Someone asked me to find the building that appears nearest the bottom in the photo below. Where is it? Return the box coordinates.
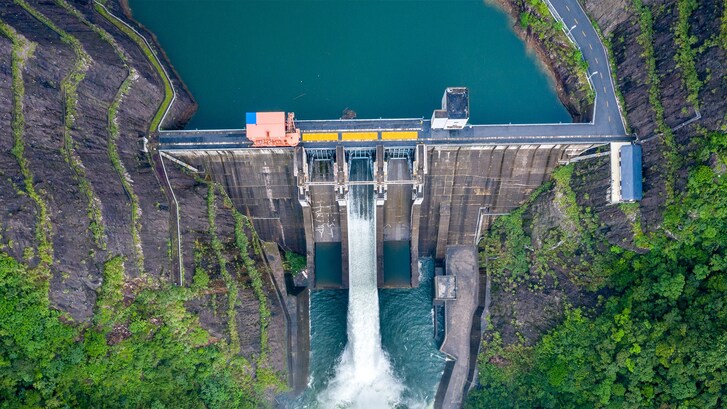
[430,275,457,302]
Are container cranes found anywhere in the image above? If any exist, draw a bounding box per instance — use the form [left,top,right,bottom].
[241,111,301,148]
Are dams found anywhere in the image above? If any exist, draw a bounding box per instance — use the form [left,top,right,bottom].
[160,116,601,291]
